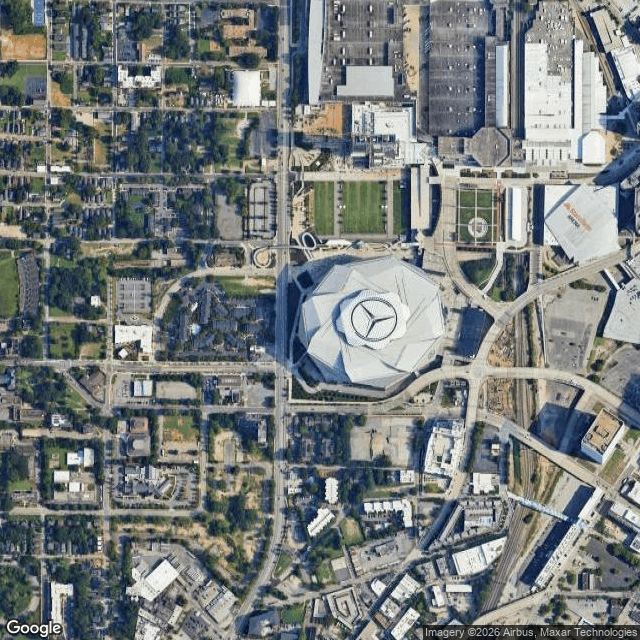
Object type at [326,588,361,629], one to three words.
building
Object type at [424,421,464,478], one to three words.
building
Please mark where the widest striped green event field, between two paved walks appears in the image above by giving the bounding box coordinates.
[341,182,385,235]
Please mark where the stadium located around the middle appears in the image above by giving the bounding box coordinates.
[298,256,444,399]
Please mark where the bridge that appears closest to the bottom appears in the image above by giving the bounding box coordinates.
[462,584,566,640]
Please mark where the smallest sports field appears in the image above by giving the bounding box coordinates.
[314,182,333,235]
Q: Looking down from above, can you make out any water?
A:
No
